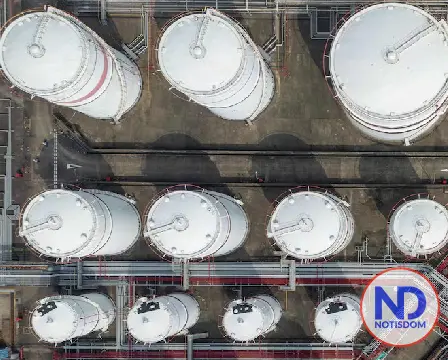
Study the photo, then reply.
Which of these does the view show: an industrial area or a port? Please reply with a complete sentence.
What you see here is an industrial area.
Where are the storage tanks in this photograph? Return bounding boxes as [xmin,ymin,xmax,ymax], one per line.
[16,185,140,262]
[29,290,114,347]
[385,195,448,260]
[218,291,282,347]
[0,6,147,122]
[155,8,277,123]
[267,187,354,263]
[124,290,199,347]
[312,290,368,348]
[326,0,448,144]
[143,187,247,262]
